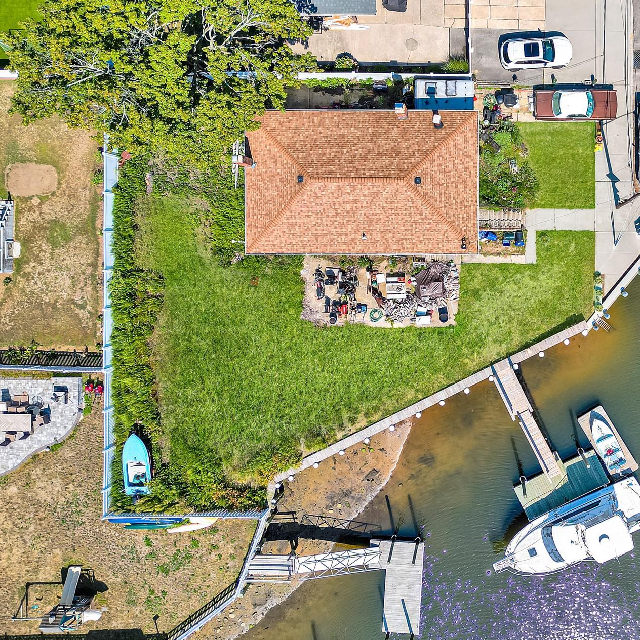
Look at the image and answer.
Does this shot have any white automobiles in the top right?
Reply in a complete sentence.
Yes, the scene does show a white automobile in the top right.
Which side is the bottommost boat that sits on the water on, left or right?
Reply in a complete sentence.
You can find the bottommost boat that sits on the water on the right side of the picture.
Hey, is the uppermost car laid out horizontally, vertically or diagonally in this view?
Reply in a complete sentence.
The uppermost car is laid out horizontally.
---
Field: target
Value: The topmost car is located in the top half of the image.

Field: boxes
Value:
[500,32,573,71]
